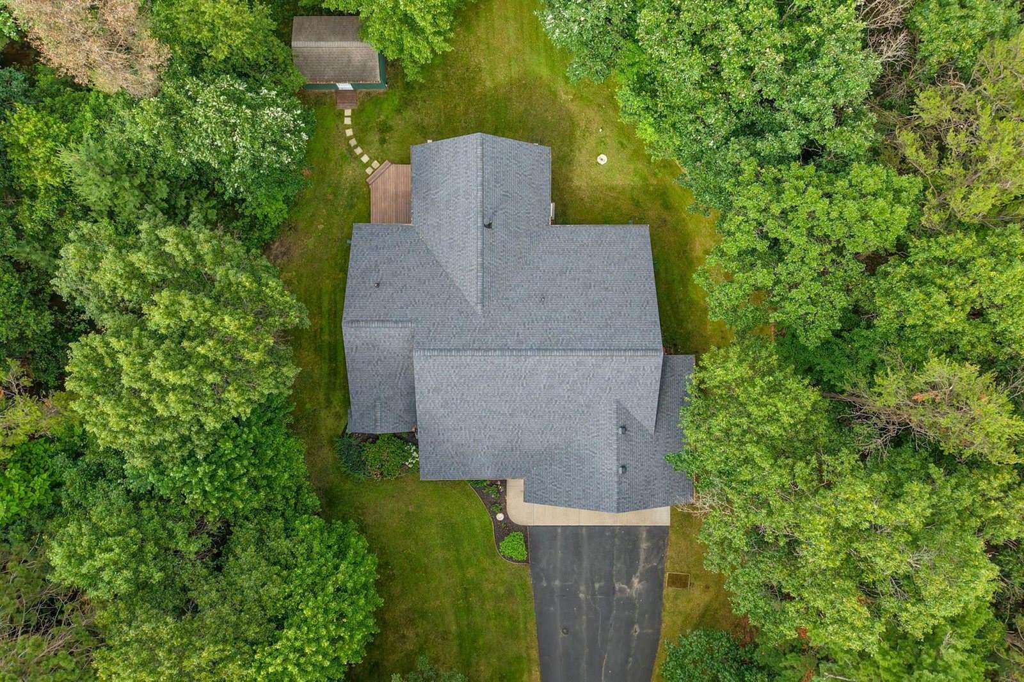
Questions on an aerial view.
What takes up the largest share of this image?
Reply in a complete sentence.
The largest share of the image is taken up by trees.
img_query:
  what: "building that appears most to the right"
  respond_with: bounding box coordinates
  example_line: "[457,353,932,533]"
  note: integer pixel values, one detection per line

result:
[344,133,697,513]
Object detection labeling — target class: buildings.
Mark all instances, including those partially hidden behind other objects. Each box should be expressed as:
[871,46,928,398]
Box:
[290,16,387,89]
[344,133,697,513]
